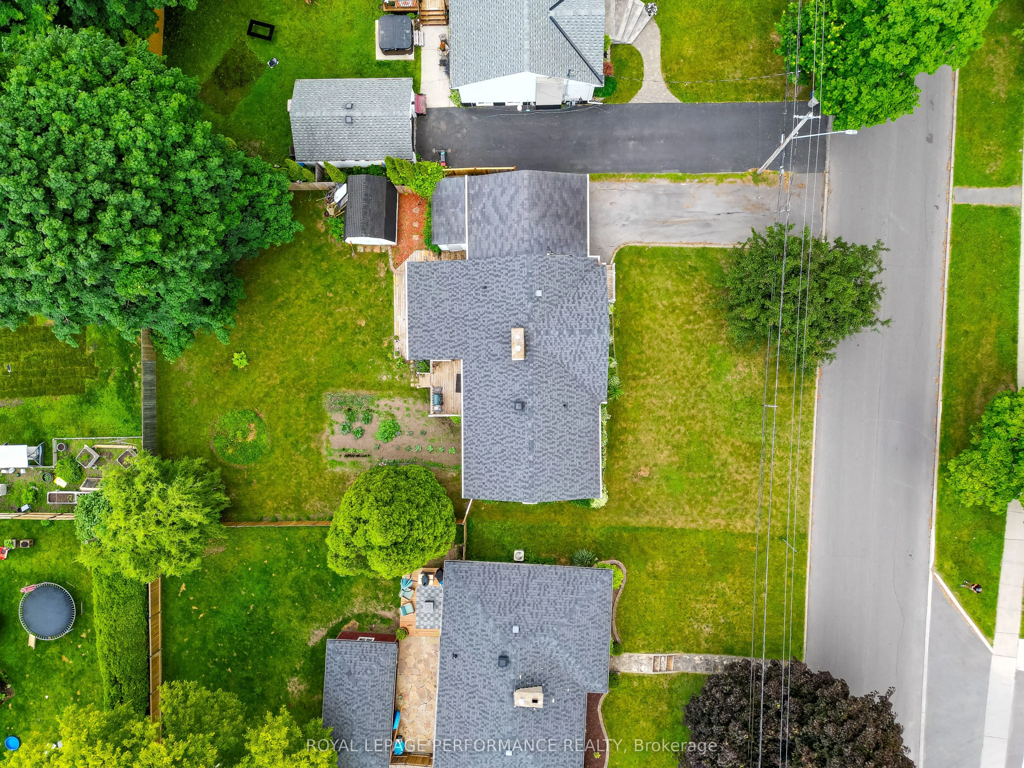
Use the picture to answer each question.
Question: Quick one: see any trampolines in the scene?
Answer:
Yes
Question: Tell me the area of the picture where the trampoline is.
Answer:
bottom left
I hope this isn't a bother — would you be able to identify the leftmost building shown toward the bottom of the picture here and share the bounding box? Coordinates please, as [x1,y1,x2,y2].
[324,631,400,768]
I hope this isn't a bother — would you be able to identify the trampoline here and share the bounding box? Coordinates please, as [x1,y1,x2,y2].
[18,583,80,640]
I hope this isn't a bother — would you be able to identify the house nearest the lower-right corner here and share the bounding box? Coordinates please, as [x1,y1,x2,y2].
[432,557,613,768]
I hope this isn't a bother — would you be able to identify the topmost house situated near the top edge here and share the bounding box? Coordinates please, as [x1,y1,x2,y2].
[448,0,608,111]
